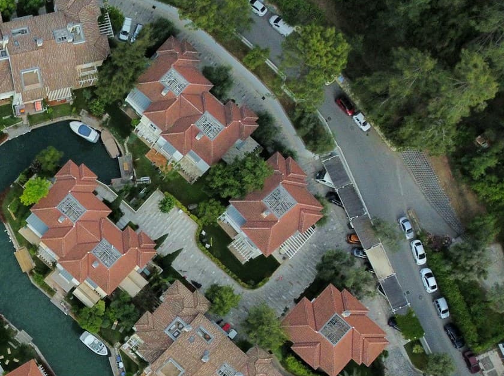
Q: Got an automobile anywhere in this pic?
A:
Yes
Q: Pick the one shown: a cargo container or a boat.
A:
boat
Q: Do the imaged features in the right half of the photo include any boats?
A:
No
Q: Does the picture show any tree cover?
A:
Yes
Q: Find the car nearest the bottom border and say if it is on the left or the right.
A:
right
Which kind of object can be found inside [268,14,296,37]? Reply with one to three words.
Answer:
vehicle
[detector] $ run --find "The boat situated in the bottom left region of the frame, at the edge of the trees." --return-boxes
[76,331,107,353]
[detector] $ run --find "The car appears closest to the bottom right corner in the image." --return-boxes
[459,348,482,375]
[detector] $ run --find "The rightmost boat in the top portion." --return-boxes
[98,132,119,159]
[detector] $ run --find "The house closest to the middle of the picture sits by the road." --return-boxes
[217,150,325,258]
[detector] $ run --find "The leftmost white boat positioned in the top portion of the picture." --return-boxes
[69,123,101,146]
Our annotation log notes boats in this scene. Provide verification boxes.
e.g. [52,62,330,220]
[98,132,119,159]
[69,123,101,146]
[76,331,107,353]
